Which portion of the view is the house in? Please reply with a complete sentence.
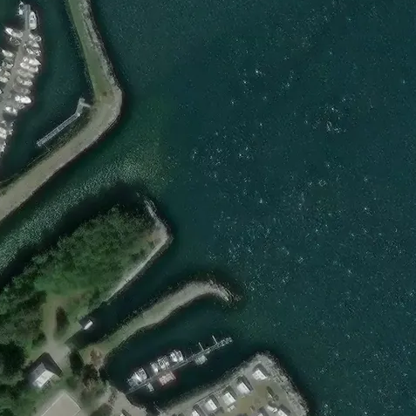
Look in the bottom left portion of the view to spot the house.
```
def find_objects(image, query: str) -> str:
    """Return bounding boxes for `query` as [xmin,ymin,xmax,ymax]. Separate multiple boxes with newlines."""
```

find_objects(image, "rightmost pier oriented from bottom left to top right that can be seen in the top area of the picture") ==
[37,98,91,150]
